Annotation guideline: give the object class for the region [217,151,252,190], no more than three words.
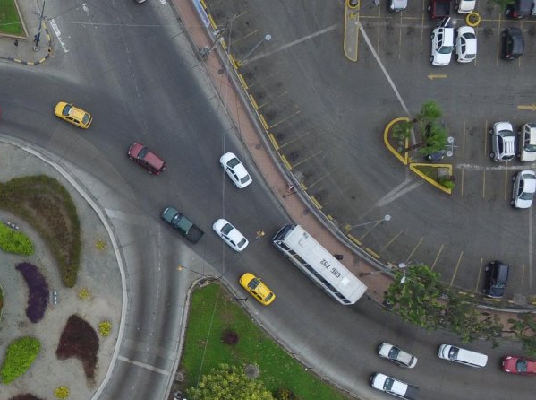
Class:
car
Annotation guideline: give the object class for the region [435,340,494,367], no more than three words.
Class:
vehicle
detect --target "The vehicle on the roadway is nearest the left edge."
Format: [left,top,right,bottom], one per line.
[51,102,94,127]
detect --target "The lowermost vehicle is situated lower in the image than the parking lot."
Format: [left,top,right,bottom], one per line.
[368,373,421,400]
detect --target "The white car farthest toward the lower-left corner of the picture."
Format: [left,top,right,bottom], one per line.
[210,217,251,254]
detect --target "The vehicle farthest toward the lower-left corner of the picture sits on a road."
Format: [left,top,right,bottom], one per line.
[159,206,207,247]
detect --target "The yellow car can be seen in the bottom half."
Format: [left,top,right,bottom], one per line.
[236,272,277,308]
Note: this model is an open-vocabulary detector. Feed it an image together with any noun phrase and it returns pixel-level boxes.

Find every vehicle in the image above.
[490,121,516,163]
[455,0,477,16]
[159,206,207,247]
[431,16,459,68]
[429,0,451,20]
[517,122,536,163]
[51,102,94,127]
[455,25,478,65]
[210,217,251,254]
[265,218,365,303]
[125,144,167,175]
[484,259,509,299]
[387,0,406,13]
[368,373,421,400]
[217,151,252,190]
[513,169,536,210]
[435,340,494,367]
[501,26,524,62]
[236,272,277,308]
[425,146,446,163]
[373,341,421,370]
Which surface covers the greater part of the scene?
paved ground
